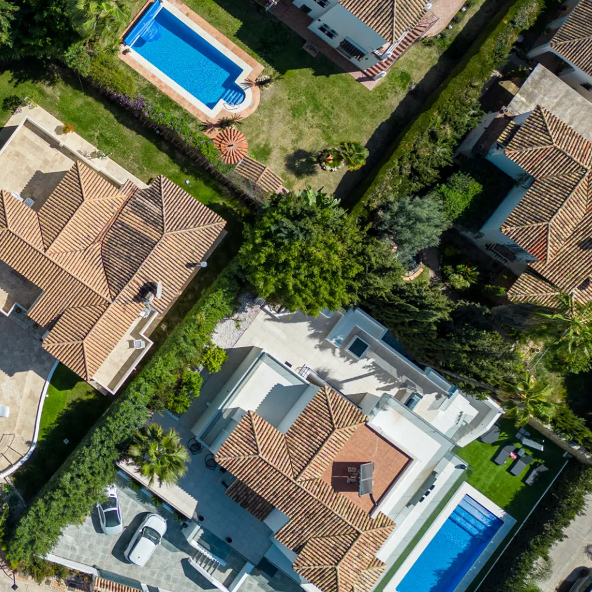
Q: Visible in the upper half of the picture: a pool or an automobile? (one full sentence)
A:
There is a pool in the upper half of the picture.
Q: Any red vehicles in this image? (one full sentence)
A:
No, there's no red vehicle here.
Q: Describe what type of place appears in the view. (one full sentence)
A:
This image shows a residential area.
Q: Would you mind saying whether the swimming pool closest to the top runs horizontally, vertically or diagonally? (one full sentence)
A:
The swimming pool closest to the top has been laid out diagonally relative to the frame.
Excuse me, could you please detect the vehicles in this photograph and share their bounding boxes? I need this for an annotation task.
[125,510,166,568]
[100,487,125,538]
[564,560,592,592]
